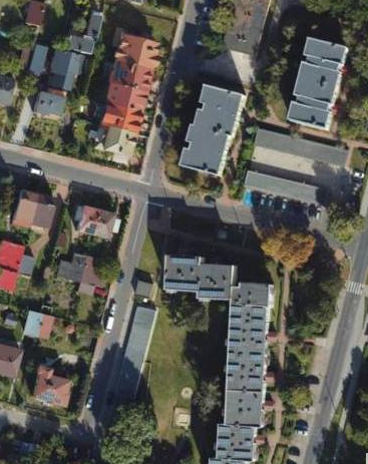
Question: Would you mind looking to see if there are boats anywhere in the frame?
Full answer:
No, there appears to be no boat in this shot.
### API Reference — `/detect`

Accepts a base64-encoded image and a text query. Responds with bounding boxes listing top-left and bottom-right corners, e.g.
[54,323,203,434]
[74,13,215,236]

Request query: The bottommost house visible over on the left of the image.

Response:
[34,370,73,408]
